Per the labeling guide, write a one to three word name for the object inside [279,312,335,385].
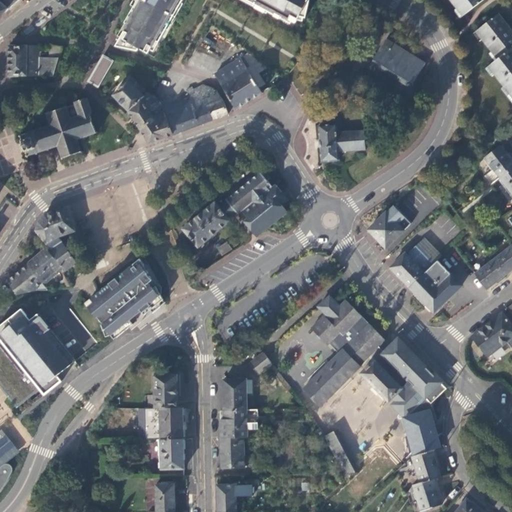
playground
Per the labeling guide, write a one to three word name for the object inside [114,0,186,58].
building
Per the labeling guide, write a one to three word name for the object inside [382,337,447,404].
building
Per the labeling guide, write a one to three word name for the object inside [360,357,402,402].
house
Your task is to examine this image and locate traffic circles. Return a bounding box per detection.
[306,196,354,244]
